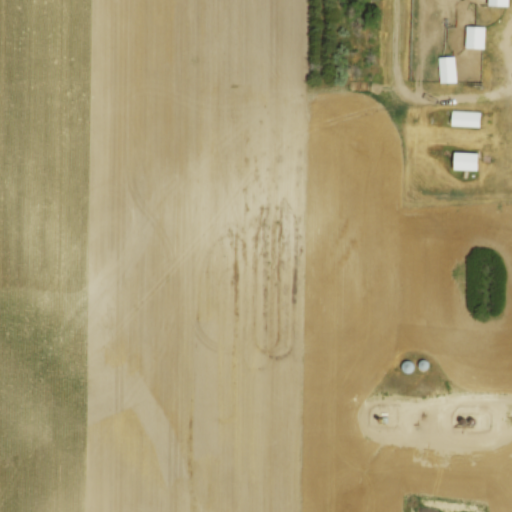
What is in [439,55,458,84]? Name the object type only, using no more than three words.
barn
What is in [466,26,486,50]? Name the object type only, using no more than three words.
barn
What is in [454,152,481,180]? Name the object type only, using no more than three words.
house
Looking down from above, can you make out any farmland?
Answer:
Yes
